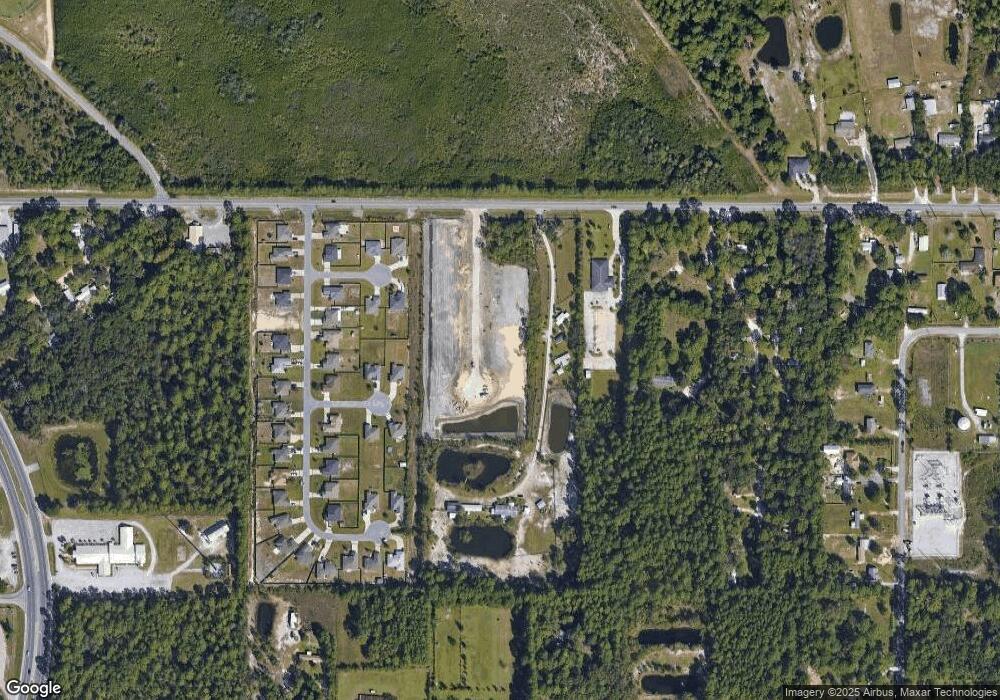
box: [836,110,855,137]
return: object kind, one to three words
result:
house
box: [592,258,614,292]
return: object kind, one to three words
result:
building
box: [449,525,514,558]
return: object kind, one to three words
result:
pond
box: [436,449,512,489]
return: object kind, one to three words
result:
pond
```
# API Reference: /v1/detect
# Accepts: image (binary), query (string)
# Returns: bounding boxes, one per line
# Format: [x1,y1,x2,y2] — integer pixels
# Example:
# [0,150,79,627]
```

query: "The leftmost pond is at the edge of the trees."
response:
[54,433,100,488]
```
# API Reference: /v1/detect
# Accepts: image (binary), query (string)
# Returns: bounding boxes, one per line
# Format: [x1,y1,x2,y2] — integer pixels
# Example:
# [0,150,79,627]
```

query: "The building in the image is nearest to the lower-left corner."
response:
[72,527,145,577]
